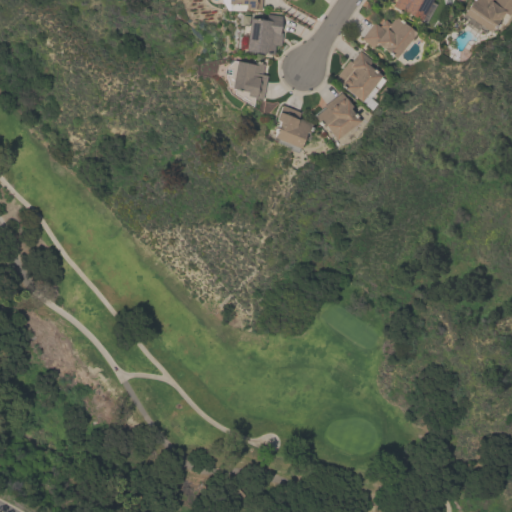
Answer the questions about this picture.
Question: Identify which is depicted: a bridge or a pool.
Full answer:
This aerial view contains a pool.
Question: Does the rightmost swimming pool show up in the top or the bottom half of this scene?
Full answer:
Seen from above, the rightmost swimming pool lies in the top half of the view.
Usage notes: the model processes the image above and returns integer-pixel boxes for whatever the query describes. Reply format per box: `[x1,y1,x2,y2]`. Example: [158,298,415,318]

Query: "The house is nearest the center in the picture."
[274,102,314,152]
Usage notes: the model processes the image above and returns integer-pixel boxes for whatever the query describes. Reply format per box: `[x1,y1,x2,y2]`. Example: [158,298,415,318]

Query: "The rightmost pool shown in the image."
[446,26,497,62]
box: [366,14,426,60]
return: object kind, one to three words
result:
house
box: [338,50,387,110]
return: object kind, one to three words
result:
house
